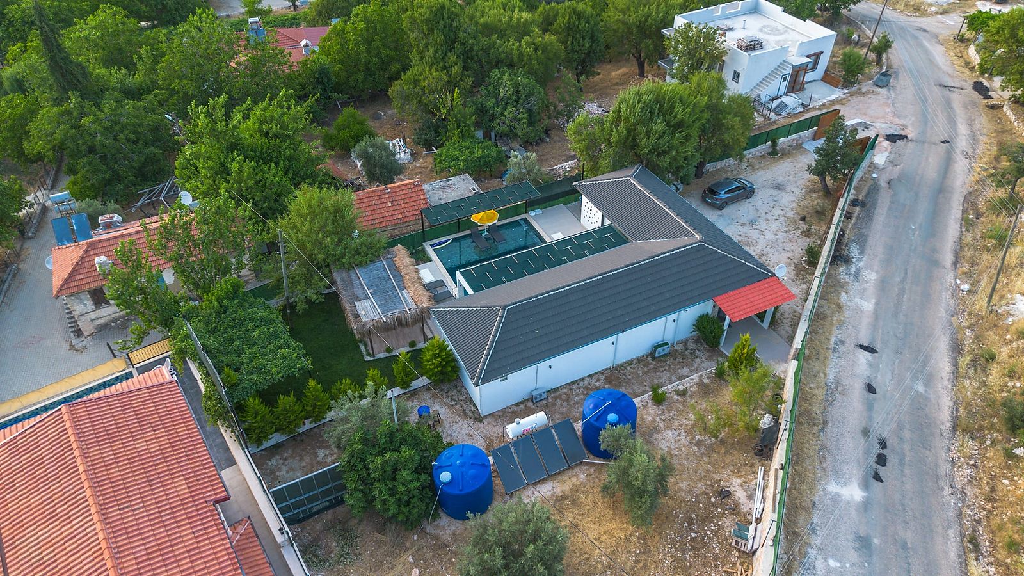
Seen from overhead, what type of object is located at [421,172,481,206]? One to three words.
shed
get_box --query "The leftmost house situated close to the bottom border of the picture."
[0,368,250,576]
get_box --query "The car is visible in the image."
[695,172,760,211]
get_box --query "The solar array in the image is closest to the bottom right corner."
[491,409,612,496]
